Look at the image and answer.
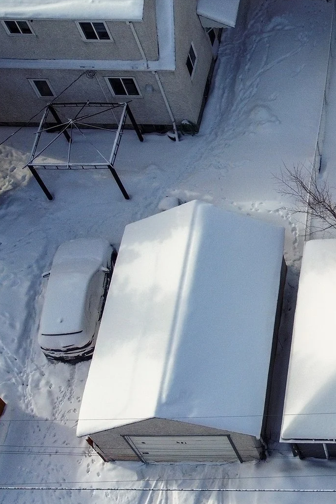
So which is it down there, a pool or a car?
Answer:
car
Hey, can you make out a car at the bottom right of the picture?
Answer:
No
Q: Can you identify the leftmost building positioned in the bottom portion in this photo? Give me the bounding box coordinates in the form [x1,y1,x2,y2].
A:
[79,209,292,467]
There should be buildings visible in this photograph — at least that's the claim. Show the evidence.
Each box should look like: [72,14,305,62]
[0,0,246,141]
[79,209,292,467]
[281,242,336,463]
